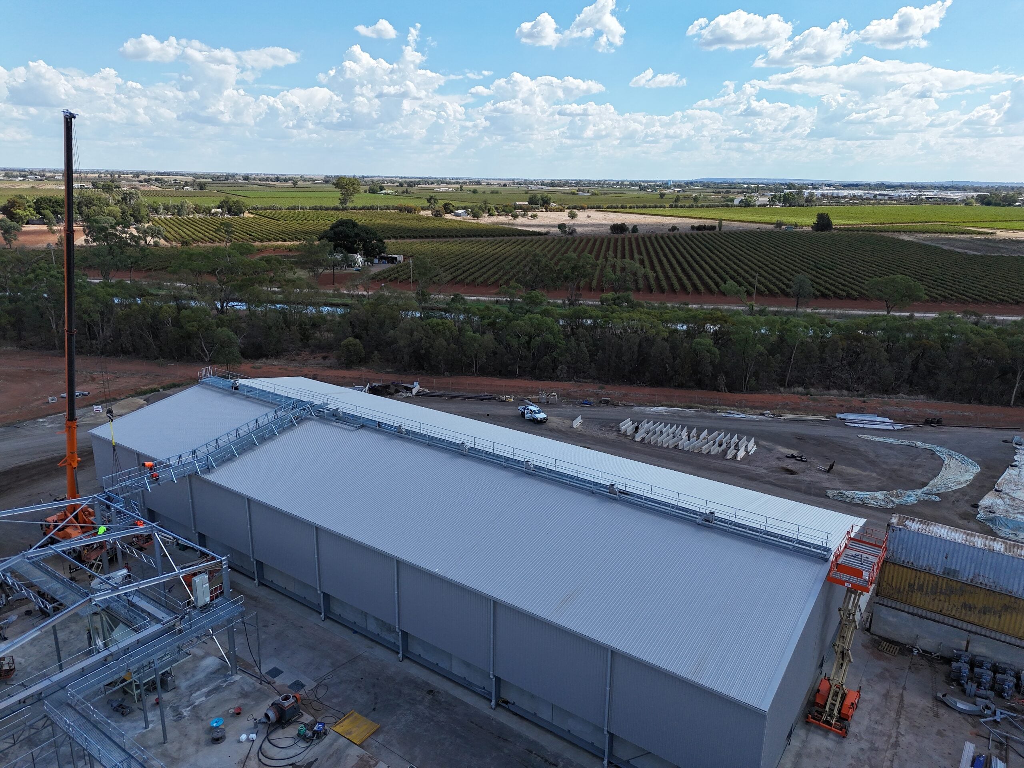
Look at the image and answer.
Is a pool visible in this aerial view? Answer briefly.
No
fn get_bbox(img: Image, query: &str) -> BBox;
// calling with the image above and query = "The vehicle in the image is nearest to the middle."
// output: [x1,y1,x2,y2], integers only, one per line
[518,399,551,424]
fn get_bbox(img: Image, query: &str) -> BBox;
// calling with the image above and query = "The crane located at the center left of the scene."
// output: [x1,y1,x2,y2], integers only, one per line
[25,104,132,577]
